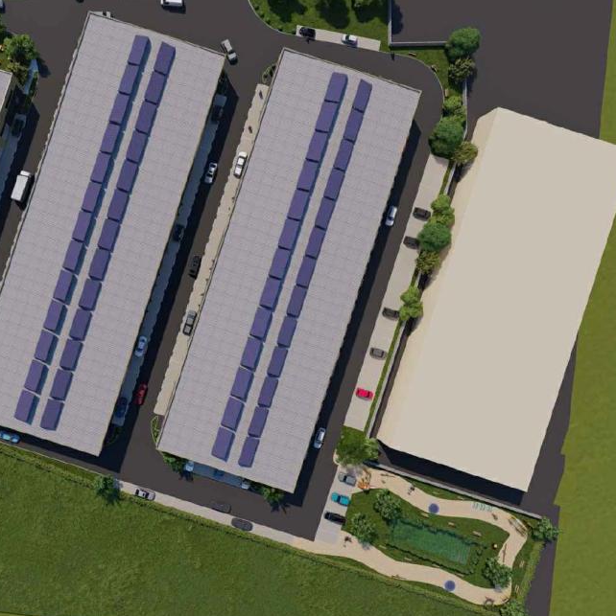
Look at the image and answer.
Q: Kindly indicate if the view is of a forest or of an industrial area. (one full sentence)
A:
This looks like an industrial area.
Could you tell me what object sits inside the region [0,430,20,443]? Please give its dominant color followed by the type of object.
blue vehicle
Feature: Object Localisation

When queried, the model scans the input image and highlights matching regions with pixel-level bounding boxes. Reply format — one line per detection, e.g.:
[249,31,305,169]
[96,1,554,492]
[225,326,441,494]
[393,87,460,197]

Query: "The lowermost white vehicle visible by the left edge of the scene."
[12,173,32,205]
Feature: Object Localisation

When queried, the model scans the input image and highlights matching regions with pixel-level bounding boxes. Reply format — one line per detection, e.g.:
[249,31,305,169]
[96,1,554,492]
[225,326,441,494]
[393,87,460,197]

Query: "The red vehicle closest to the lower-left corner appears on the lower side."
[135,382,149,405]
